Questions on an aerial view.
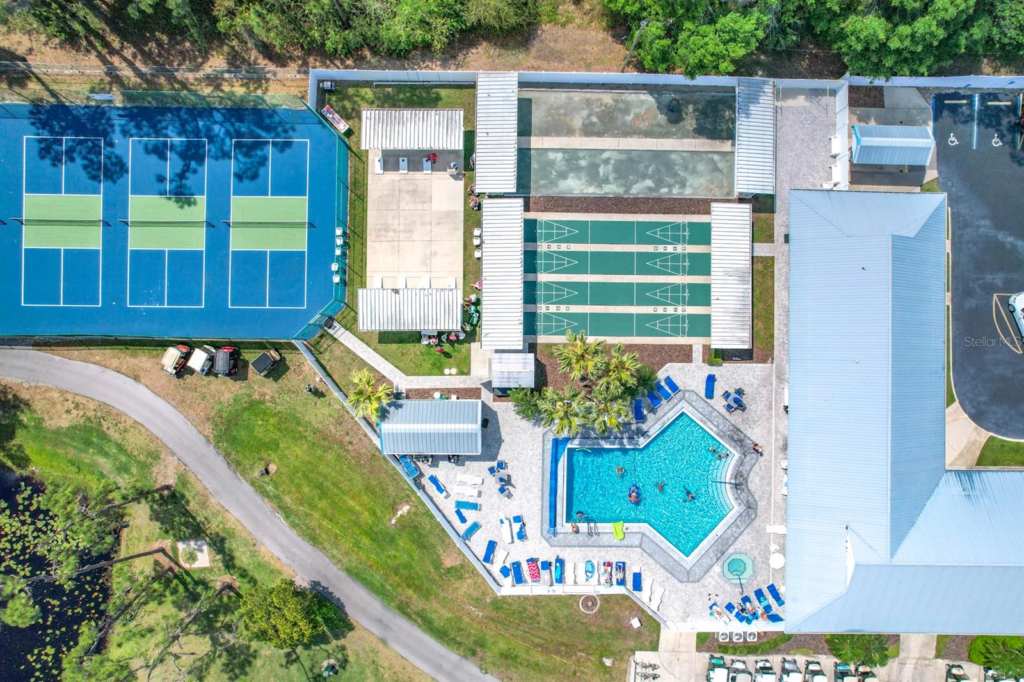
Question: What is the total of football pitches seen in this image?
0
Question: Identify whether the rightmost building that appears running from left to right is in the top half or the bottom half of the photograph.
top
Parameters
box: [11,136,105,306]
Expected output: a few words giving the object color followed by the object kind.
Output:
blue sports court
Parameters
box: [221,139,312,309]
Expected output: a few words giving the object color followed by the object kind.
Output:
blue sports court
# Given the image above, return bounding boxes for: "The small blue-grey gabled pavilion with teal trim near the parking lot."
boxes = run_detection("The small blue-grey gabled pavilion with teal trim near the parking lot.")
[848,124,939,168]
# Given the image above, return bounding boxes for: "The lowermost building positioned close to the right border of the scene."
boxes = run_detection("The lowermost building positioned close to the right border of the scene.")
[779,190,1024,637]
